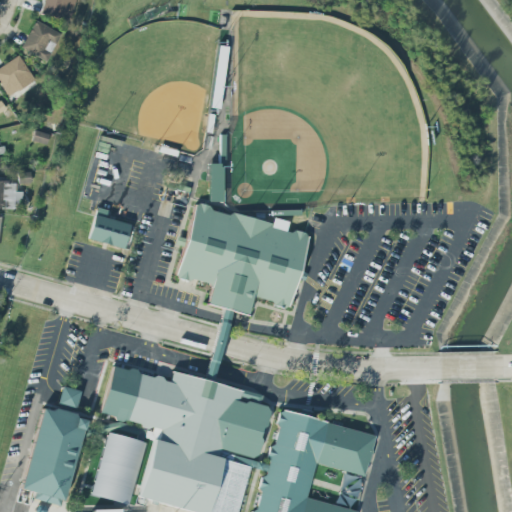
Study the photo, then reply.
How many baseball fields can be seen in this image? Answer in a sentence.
My tally gives 2 baseball fields in this view.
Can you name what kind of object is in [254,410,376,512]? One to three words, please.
building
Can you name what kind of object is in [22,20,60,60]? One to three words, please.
house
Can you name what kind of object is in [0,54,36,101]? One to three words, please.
house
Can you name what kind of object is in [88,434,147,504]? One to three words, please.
building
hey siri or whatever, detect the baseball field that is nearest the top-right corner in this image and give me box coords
[228,10,428,206]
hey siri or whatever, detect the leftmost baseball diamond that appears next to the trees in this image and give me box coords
[84,24,219,156]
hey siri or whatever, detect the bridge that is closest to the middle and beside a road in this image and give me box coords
[209,310,235,384]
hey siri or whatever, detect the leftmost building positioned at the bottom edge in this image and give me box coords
[25,405,92,506]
